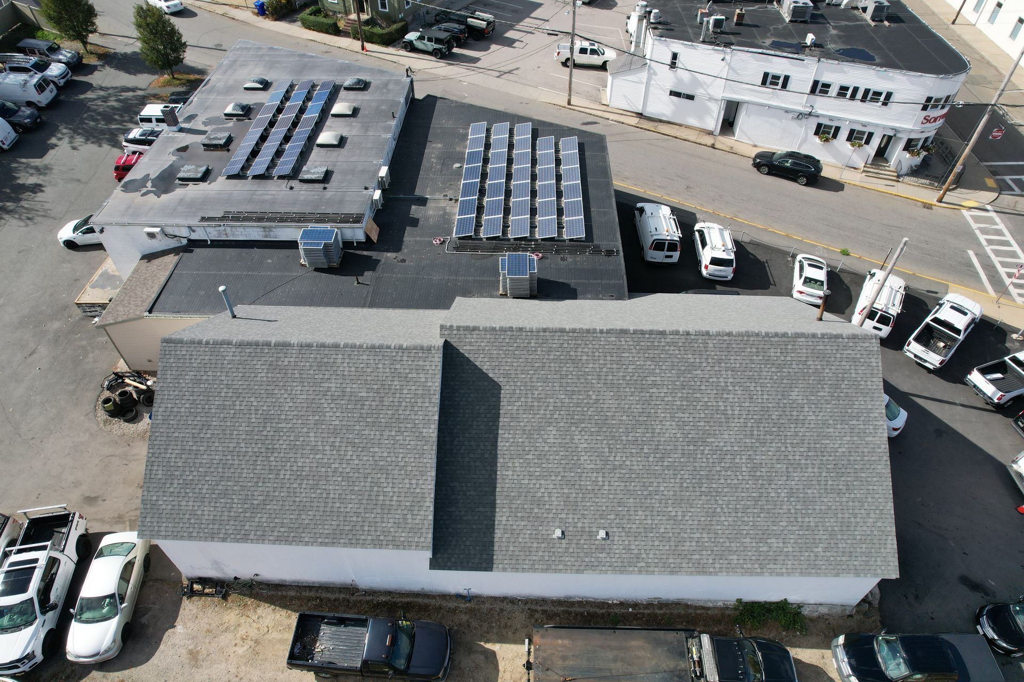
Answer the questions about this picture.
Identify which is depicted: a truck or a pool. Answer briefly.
truck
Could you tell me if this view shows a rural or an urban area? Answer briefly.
urban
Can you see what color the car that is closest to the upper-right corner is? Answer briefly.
black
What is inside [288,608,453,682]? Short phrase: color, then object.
black truck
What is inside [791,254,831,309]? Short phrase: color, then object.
white car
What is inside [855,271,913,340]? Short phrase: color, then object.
white van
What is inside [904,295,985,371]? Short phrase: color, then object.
white truck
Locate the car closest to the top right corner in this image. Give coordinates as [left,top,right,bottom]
[751,150,824,186]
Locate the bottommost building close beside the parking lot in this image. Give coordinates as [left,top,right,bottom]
[137,296,898,615]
